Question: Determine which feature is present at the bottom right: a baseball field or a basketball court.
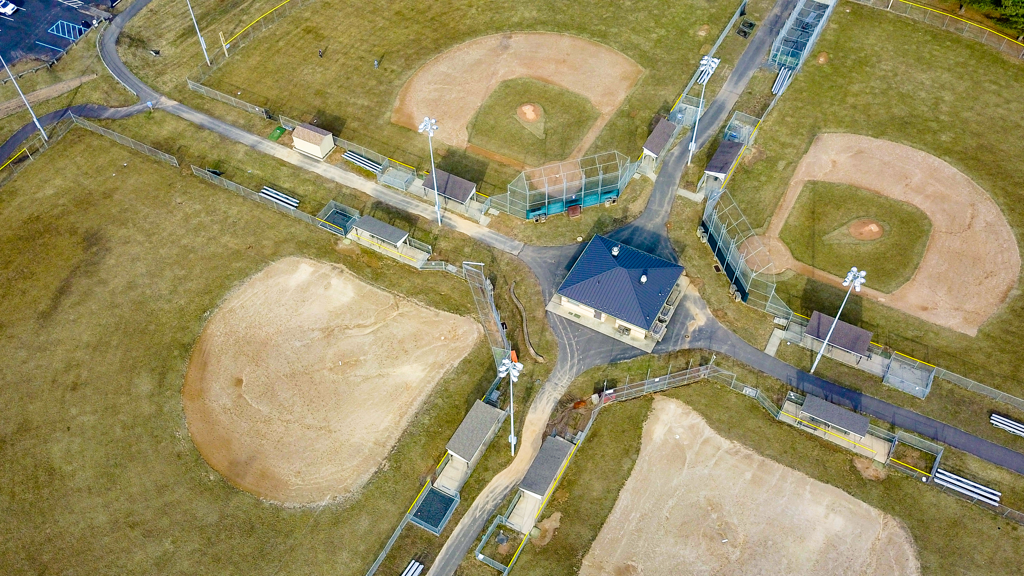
baseball field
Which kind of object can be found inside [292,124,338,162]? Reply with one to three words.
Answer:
shed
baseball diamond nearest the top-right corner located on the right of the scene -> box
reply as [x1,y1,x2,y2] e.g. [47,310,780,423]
[701,1,1024,411]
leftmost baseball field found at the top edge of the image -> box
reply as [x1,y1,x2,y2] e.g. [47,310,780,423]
[192,0,747,220]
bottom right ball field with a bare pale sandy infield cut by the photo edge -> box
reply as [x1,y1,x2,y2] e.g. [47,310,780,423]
[505,378,1024,576]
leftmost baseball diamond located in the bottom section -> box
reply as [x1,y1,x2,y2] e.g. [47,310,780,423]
[0,122,510,576]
